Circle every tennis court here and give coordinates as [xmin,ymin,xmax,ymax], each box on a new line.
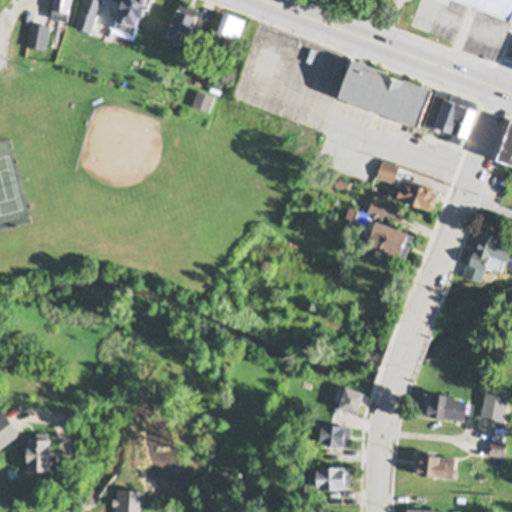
[0,140,34,230]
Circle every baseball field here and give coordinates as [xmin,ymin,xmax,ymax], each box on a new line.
[80,105,162,187]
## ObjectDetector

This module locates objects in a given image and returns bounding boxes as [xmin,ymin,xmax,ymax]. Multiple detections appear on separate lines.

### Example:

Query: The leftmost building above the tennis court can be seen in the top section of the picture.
[26,24,50,52]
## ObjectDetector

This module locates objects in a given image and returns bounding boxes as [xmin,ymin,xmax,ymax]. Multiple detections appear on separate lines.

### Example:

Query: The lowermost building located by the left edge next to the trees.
[25,435,52,474]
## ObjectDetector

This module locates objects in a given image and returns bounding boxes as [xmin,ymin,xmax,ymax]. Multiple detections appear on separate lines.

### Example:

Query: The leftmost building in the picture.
[0,410,30,452]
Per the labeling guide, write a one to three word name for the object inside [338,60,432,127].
building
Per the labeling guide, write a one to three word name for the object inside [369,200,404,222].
house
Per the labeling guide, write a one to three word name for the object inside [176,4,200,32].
house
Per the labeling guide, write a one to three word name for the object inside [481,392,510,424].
building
